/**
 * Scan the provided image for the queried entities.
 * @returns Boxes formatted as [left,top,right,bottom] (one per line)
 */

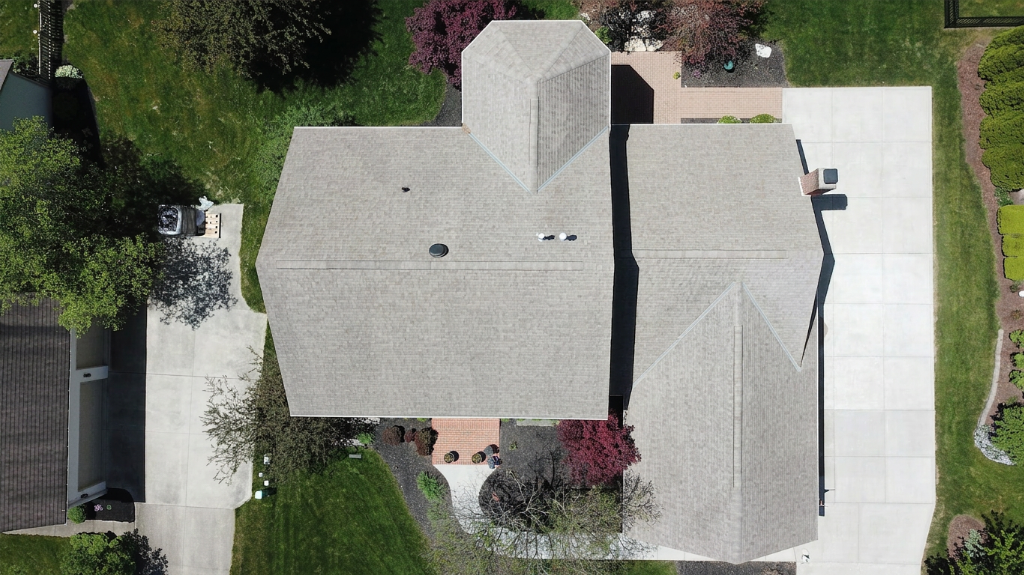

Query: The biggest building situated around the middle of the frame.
[257,17,839,566]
